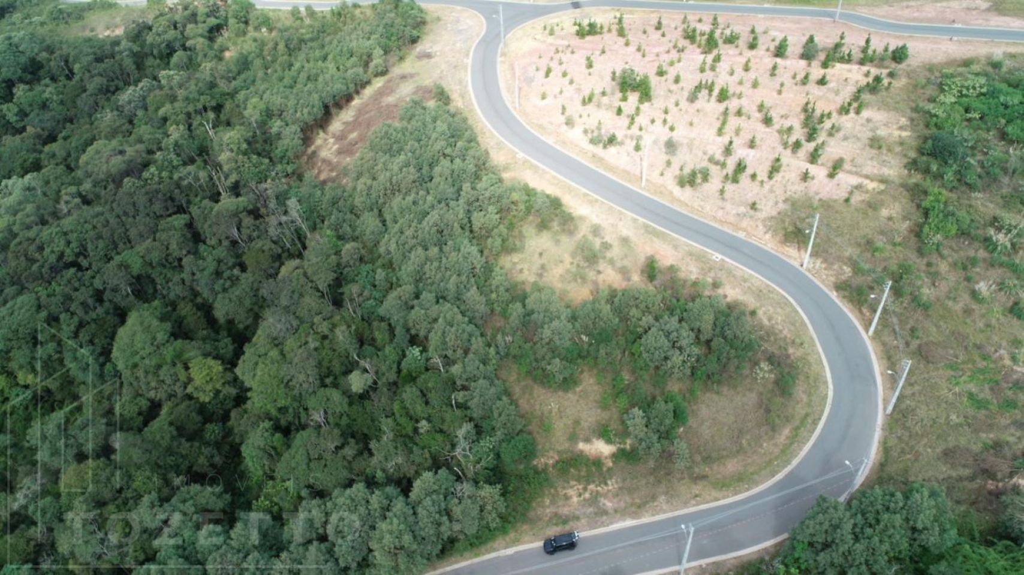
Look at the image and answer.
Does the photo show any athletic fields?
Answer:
No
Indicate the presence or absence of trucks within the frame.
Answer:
No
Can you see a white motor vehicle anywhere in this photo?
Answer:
No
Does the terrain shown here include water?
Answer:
No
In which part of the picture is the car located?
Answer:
bottom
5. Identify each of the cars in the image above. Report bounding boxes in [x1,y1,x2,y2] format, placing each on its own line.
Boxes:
[542,529,581,557]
